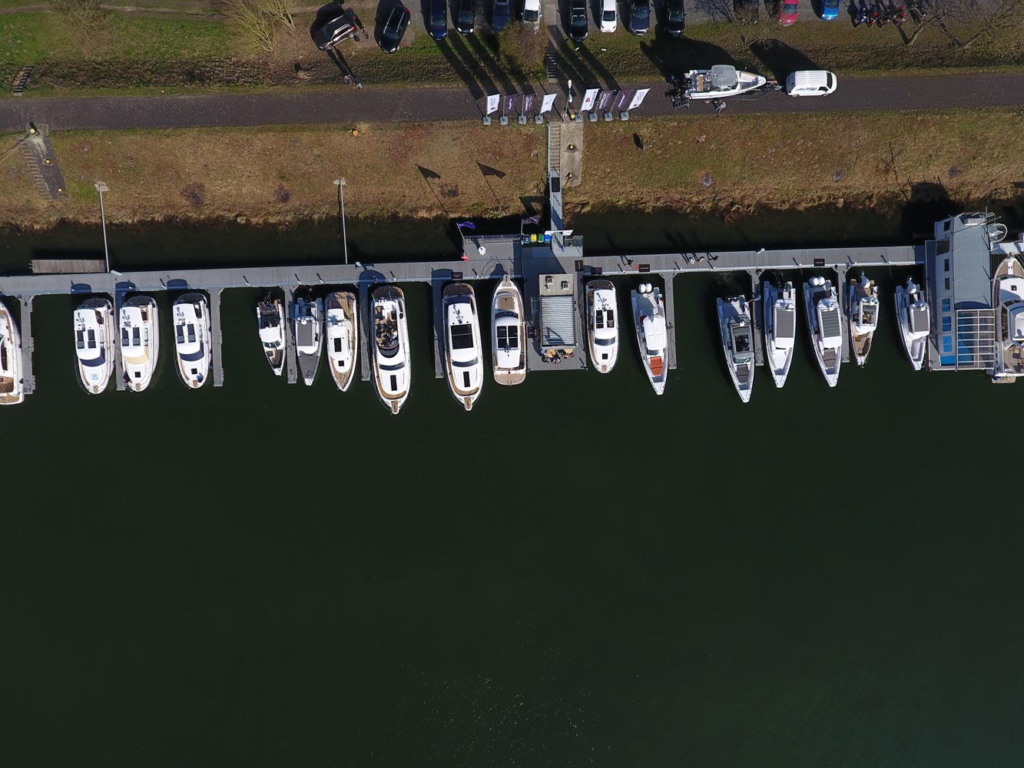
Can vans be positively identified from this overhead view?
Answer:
Yes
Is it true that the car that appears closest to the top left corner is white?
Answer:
No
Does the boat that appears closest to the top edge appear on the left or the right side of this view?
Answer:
right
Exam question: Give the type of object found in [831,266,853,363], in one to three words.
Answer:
pier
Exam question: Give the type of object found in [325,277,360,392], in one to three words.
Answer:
boat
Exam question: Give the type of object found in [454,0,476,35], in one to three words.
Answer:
car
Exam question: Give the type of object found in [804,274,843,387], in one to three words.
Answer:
boat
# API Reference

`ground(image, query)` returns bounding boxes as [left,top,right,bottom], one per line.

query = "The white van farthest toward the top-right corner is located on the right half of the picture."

[786,66,838,96]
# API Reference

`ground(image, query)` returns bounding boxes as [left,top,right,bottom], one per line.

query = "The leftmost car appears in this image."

[317,6,361,52]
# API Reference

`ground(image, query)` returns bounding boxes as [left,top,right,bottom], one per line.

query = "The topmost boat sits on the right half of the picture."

[671,67,766,102]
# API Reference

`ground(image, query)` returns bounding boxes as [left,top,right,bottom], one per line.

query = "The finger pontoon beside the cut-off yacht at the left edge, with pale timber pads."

[14,297,39,394]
